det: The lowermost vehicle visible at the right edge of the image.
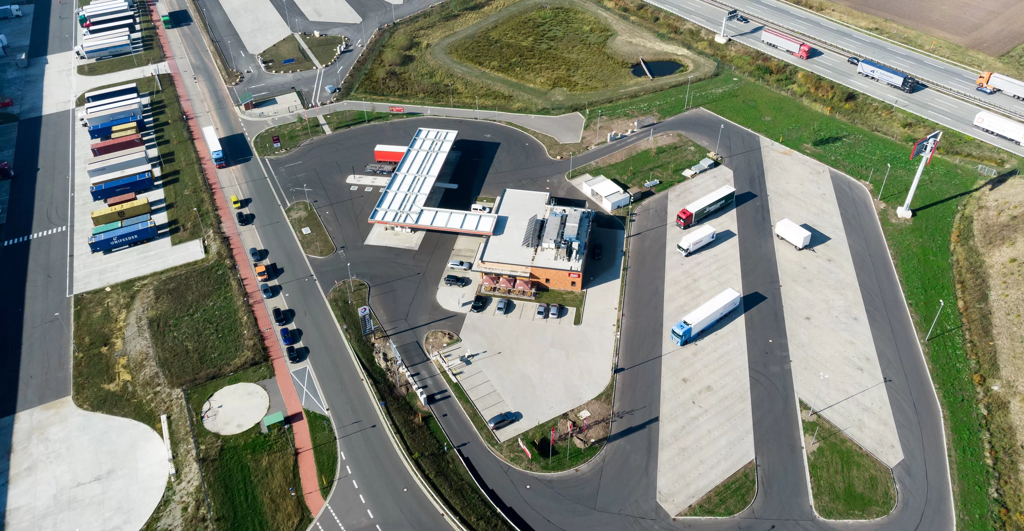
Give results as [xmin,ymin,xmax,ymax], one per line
[972,112,1024,148]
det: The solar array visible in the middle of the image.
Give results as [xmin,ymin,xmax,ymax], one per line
[524,220,540,254]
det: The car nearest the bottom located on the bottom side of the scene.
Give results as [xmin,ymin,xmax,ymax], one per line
[492,414,520,430]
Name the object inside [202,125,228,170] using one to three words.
truck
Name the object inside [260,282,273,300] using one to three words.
vehicle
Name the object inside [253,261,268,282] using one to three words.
vehicle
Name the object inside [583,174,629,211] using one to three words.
building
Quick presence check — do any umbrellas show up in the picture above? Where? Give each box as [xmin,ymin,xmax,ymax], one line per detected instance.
[515,279,532,294]
[497,277,515,292]
[481,275,499,290]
